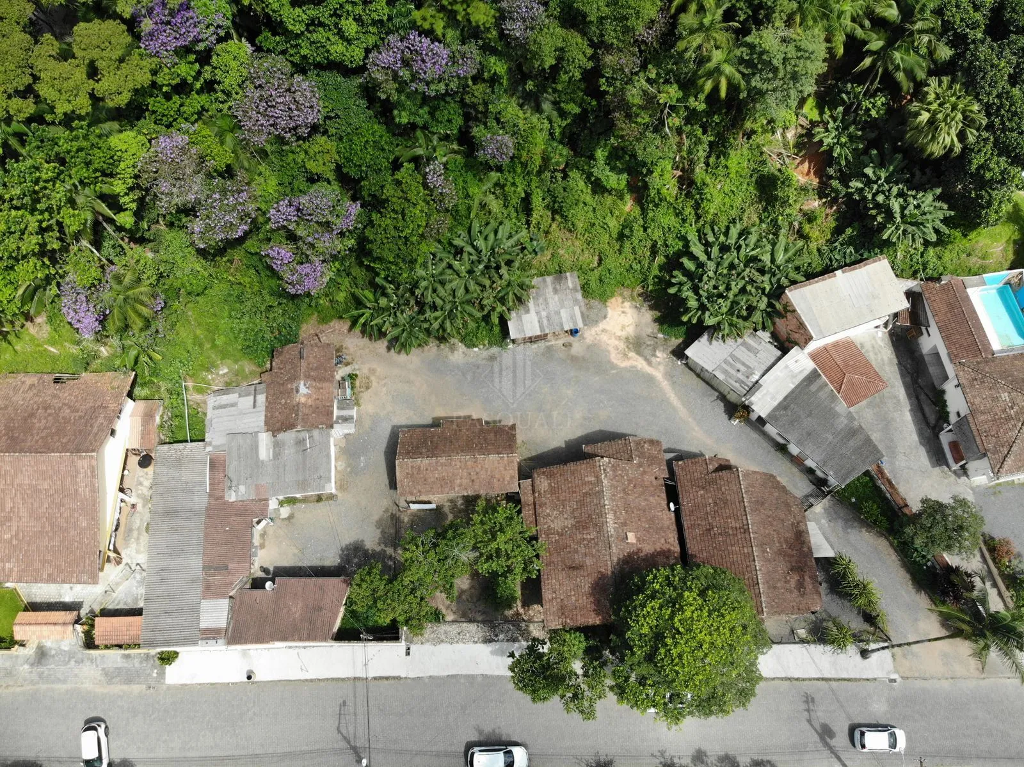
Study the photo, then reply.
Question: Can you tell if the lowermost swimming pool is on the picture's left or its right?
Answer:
right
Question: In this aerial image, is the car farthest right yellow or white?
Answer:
white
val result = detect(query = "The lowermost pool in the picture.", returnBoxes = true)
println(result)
[966,281,1024,357]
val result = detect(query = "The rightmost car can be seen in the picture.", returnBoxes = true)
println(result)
[851,725,907,757]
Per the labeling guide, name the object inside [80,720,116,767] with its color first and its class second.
white car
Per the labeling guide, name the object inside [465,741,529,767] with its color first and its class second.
white car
